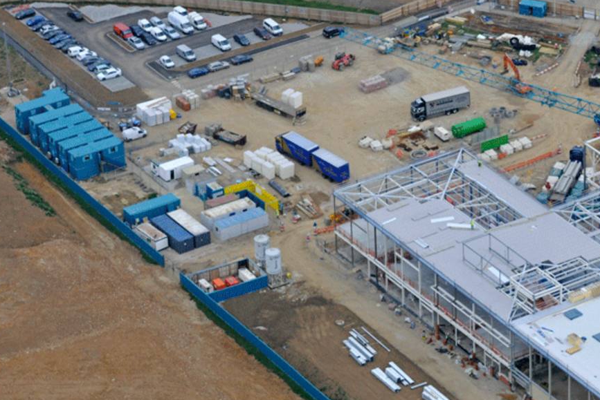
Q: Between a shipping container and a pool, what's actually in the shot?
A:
shipping container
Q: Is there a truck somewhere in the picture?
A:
Yes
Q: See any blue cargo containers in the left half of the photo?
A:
Yes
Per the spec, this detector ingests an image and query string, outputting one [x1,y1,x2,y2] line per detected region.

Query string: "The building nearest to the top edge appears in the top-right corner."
[520,0,549,19]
